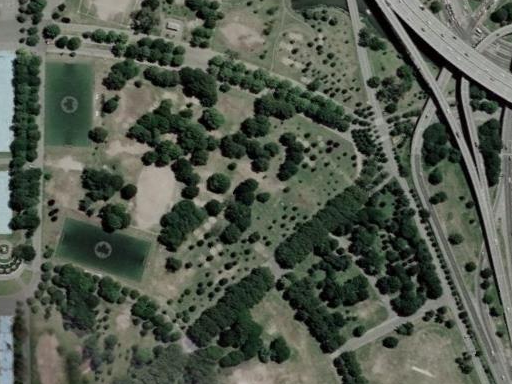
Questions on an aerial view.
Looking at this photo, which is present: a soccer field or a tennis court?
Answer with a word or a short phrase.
soccer field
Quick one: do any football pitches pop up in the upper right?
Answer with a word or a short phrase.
No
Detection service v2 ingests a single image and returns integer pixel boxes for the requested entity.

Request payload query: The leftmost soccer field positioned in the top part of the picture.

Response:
[43,61,92,147]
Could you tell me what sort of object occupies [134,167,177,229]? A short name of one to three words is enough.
sports field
